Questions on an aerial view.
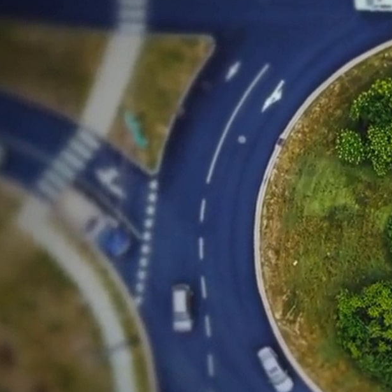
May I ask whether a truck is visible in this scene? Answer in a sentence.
Yes, there's a truck down there.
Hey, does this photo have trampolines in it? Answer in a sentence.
No, this view has no trampoline in it.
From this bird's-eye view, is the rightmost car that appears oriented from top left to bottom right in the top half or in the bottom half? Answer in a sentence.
It is in the bottom half that the rightmost car that appears oriented from top left to bottom right appears.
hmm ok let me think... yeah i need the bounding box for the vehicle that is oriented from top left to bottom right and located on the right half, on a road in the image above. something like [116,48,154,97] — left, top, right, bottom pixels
[256,344,295,392]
